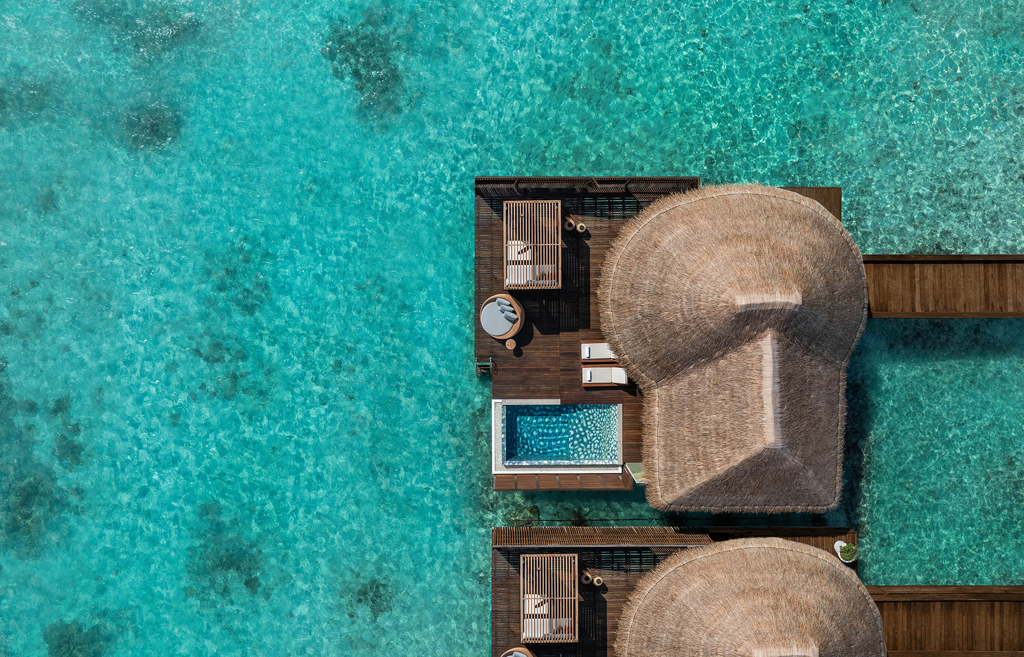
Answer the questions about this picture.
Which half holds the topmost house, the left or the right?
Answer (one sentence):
The topmost house sits on the right side.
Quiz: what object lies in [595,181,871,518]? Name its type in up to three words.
house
